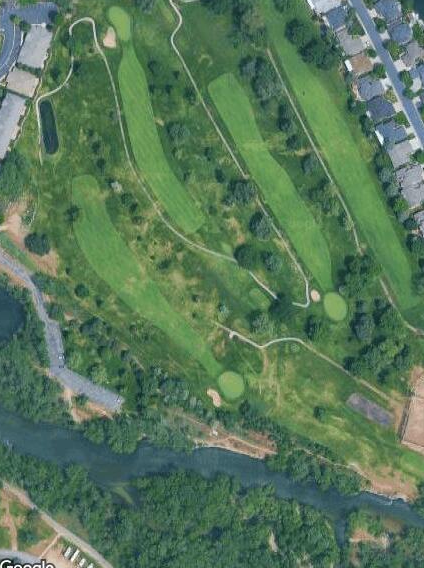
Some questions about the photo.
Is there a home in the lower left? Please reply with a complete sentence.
No, no home can be made out in the lower left.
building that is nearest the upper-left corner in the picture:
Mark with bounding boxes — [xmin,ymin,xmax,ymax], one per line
[17,23,53,68]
